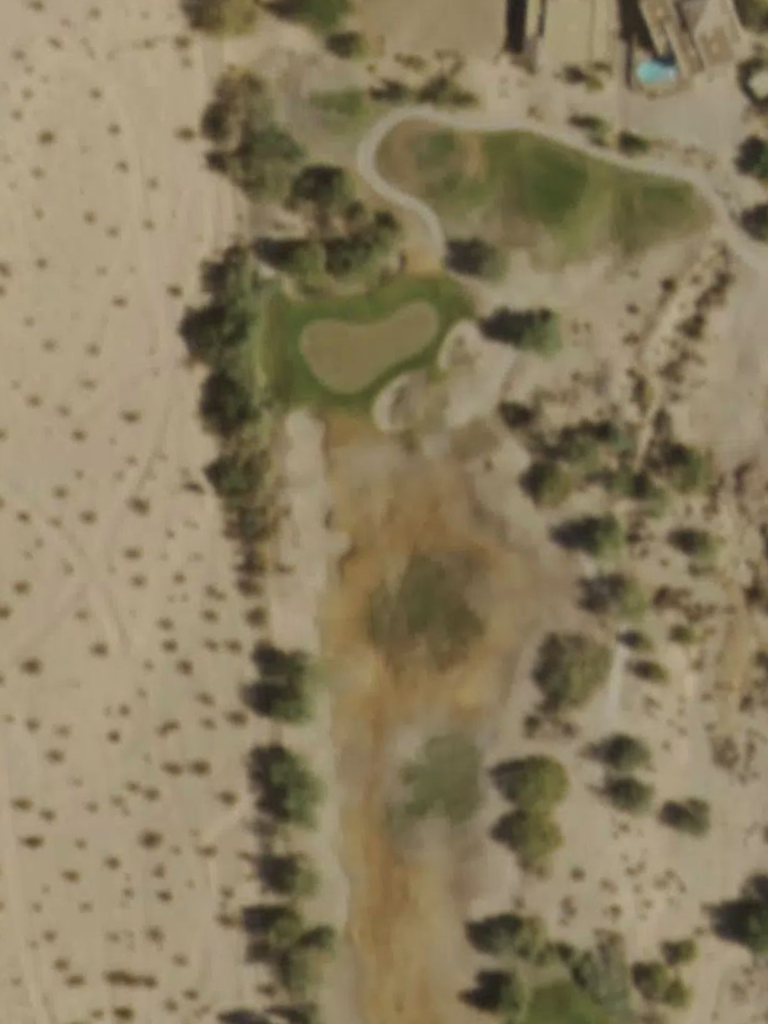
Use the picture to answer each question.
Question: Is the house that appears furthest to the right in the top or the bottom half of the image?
top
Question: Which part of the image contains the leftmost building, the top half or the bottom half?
top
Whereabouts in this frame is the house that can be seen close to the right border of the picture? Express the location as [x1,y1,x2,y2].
[642,0,743,78]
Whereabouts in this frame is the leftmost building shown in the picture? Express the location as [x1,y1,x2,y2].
[526,0,610,61]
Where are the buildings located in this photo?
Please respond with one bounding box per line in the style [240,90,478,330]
[526,0,610,61]
[642,0,743,78]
